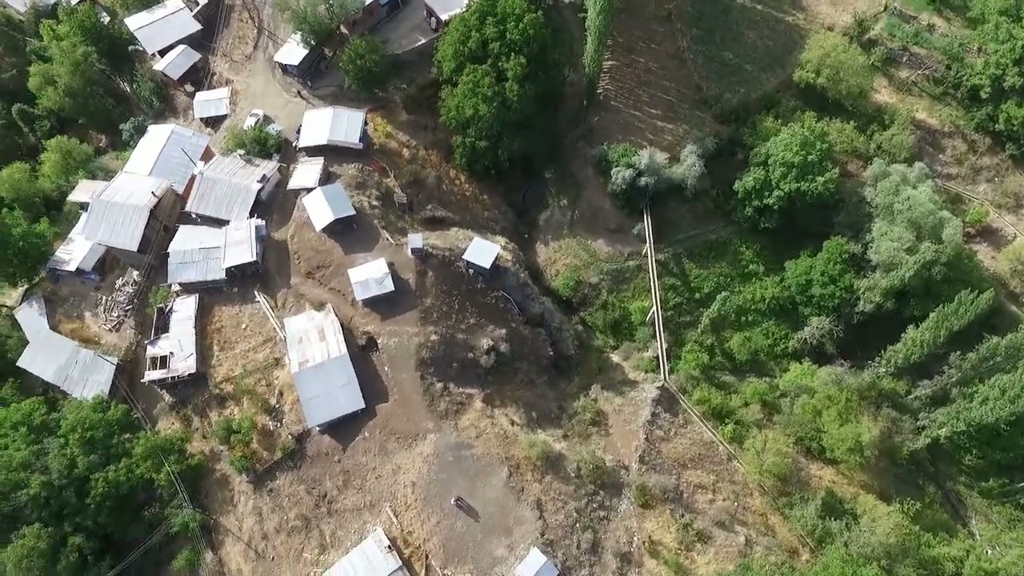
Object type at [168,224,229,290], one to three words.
house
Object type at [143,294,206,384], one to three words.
barn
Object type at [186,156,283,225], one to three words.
house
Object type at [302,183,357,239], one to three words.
shed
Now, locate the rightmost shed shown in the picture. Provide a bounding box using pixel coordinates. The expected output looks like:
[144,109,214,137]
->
[514,547,559,576]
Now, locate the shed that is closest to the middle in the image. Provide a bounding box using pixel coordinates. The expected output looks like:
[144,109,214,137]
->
[462,237,500,281]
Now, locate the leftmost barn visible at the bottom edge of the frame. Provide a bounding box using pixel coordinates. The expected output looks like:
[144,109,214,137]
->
[310,527,410,576]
